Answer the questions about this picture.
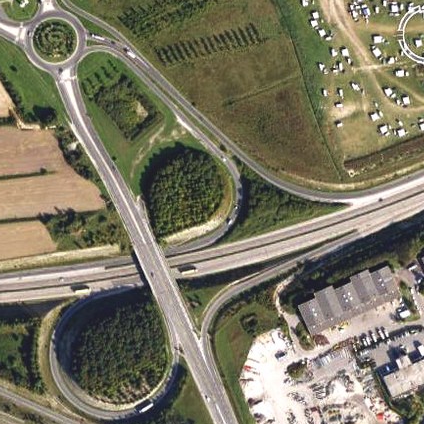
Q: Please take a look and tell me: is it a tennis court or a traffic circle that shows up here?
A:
traffic circle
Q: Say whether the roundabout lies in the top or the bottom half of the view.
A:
top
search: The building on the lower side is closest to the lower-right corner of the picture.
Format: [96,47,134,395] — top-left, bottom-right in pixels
[385,345,424,399]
